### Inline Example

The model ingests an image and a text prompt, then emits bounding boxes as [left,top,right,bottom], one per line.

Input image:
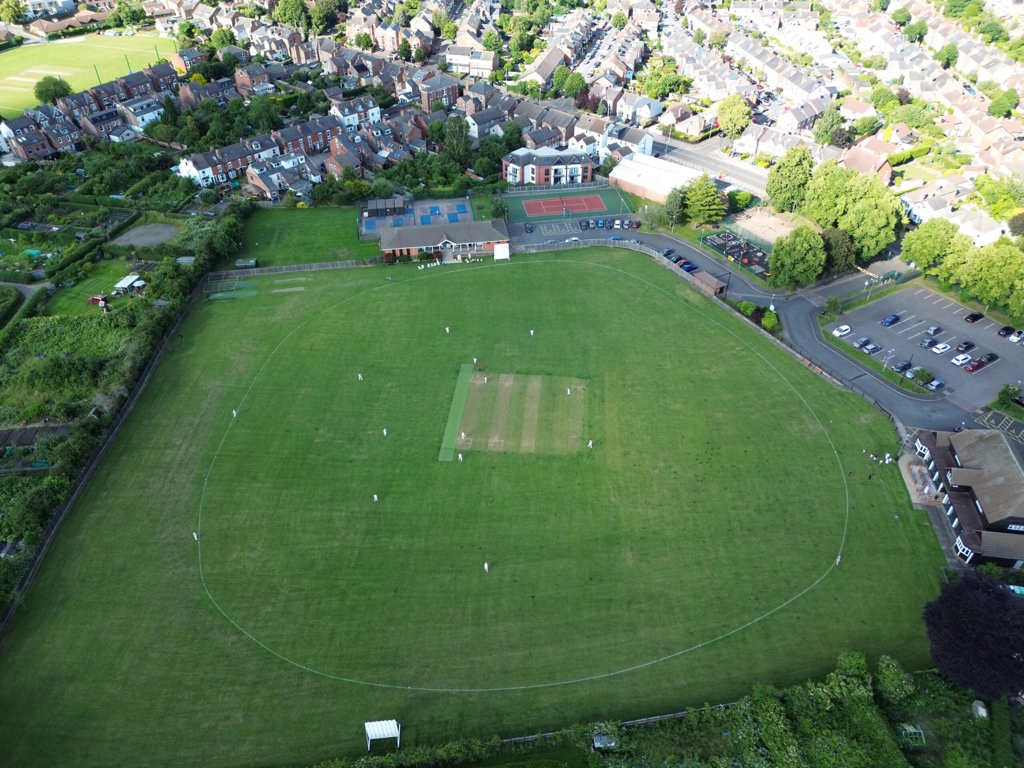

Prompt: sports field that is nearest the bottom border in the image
[0,206,944,768]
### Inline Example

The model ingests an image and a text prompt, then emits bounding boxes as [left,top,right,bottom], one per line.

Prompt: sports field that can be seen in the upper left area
[0,34,177,124]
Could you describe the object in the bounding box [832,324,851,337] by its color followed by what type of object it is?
white vehicle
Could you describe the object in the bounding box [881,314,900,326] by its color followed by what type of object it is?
blue vehicle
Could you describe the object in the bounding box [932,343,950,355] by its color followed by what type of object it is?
white vehicle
